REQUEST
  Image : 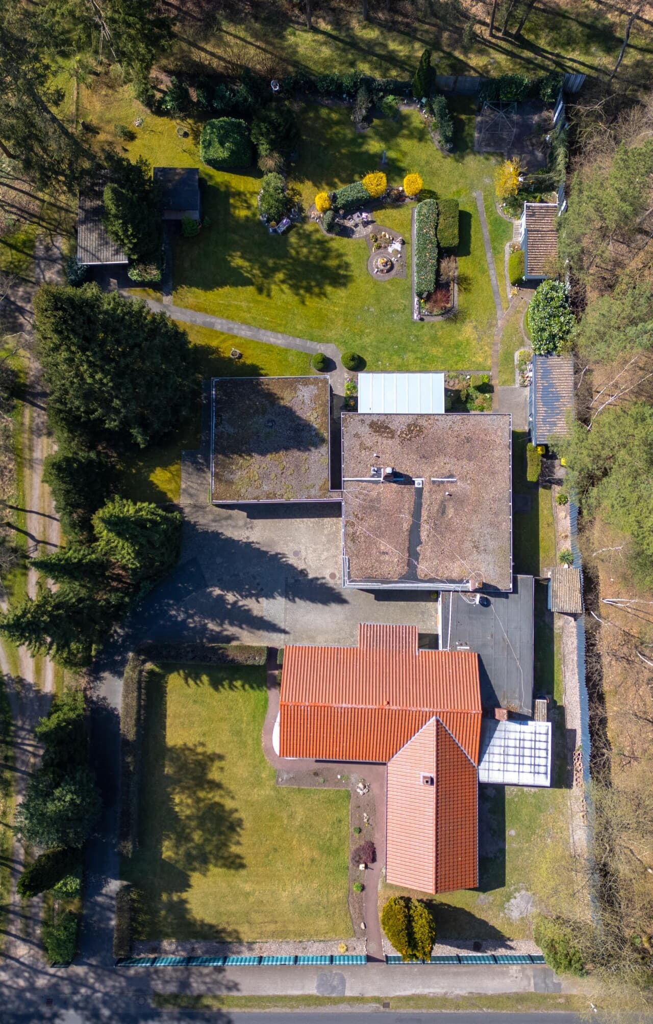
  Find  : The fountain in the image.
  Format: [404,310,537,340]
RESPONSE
[374,254,392,272]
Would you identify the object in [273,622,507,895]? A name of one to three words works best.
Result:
house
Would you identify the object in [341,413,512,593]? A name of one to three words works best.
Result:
house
